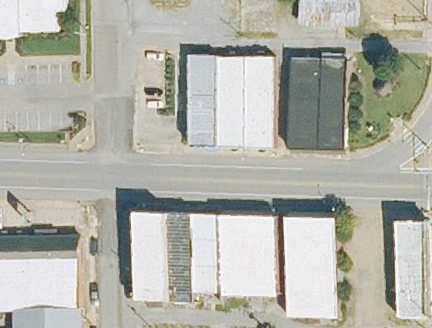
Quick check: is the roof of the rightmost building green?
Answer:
No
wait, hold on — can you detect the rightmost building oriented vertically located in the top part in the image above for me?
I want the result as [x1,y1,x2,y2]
[318,52,348,150]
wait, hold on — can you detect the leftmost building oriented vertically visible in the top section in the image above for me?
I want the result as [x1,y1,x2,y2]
[186,55,217,150]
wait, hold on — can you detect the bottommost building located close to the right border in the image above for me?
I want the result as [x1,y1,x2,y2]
[394,221,431,319]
